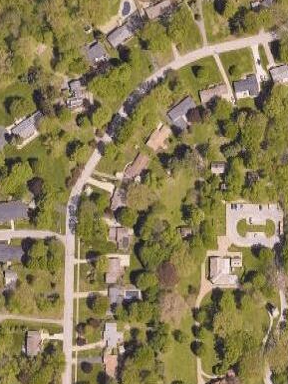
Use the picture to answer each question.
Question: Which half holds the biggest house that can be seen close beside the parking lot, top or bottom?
bottom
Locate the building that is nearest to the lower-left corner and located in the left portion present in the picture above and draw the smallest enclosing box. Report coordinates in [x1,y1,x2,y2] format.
[26,330,41,355]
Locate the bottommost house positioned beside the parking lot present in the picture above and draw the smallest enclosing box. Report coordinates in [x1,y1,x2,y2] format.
[210,256,241,286]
